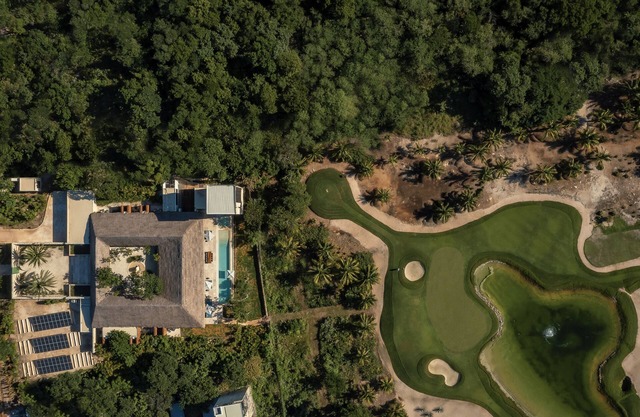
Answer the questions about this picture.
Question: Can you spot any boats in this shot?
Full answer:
No, I can see no boat in this picture.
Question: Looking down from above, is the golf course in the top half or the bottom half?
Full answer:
The bottom half of the photo is where the golf course is.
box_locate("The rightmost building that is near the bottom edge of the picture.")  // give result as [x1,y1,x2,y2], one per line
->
[214,385,253,417]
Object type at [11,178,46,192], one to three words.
shed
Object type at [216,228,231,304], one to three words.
swimming pool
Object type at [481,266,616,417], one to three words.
pond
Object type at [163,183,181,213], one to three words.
building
